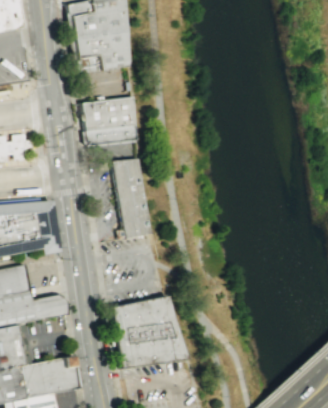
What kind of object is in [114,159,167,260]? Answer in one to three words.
building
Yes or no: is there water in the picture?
Yes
